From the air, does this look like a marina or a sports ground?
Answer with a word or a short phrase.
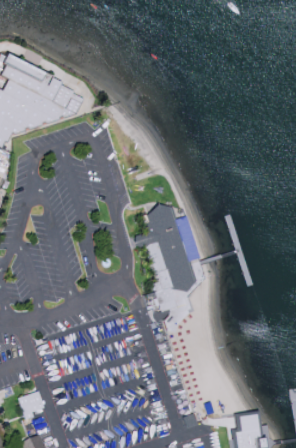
marina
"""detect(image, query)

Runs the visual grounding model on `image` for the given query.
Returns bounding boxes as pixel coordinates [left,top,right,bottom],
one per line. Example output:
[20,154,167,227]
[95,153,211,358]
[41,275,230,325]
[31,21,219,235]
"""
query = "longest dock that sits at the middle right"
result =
[225,214,252,288]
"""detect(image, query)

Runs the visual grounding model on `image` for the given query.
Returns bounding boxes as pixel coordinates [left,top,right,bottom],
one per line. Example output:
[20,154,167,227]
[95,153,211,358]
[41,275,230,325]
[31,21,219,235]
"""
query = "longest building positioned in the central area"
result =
[135,202,197,292]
